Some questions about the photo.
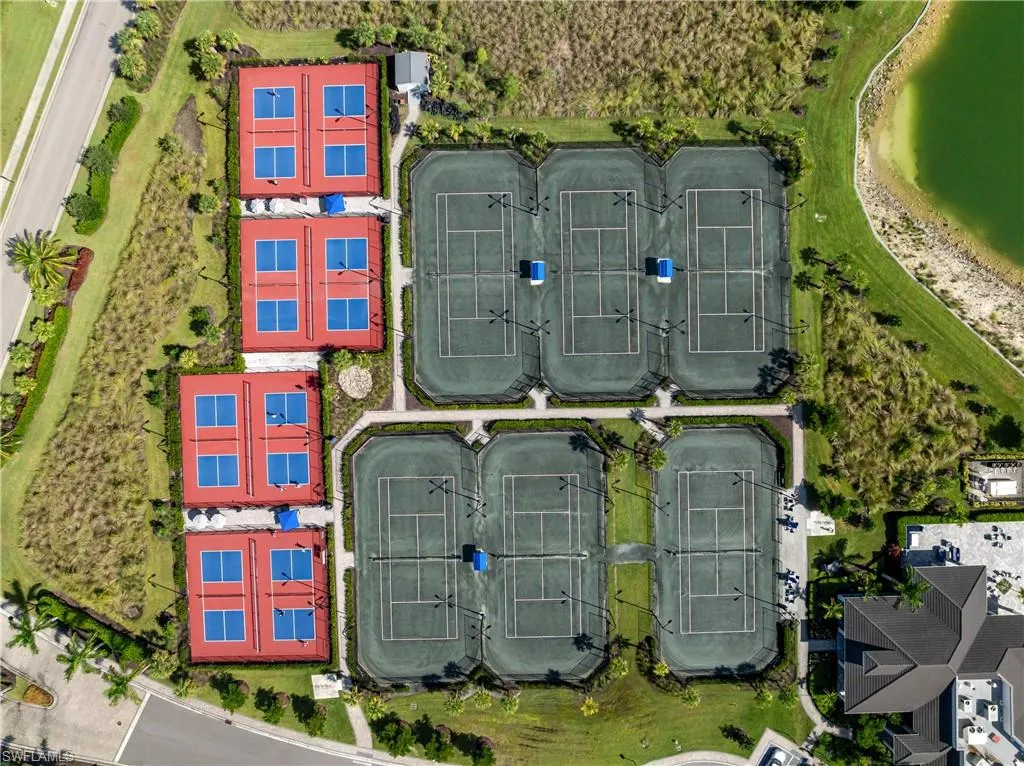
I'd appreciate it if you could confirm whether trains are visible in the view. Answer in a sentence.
No, the scene contains no train.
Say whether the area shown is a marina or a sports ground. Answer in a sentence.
The picture captures a sports ground.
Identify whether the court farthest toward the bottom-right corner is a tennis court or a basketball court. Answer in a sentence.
It turns out the court farthest toward the bottom-right corner is a tennis court.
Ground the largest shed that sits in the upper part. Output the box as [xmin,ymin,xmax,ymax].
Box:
[395,52,429,94]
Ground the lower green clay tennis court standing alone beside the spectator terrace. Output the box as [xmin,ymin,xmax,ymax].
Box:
[653,426,779,675]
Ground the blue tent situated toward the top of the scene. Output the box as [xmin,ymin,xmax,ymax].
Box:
[325,194,351,218]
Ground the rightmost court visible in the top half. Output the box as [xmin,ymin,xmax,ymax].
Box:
[661,146,792,397]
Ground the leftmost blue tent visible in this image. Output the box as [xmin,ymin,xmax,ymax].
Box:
[278,506,305,531]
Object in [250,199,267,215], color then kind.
white umbrella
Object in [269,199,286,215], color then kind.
white umbrella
